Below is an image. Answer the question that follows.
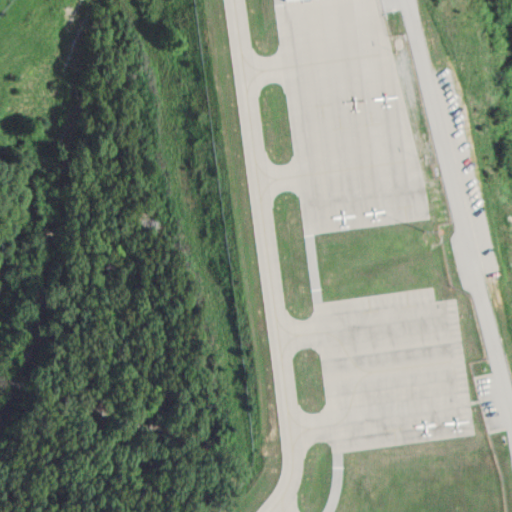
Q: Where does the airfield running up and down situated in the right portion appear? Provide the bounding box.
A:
[224,0,476,512]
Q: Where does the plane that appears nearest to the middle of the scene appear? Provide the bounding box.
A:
[332,211,356,228]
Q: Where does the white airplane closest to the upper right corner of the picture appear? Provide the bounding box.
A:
[374,92,398,109]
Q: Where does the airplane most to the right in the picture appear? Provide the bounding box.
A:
[445,417,470,434]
